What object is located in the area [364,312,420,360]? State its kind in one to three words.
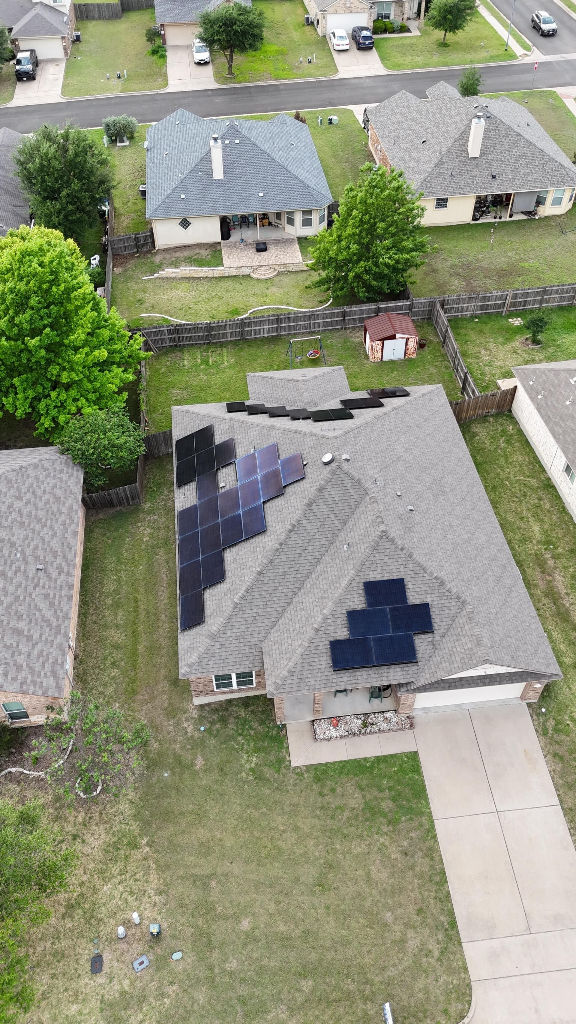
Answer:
shed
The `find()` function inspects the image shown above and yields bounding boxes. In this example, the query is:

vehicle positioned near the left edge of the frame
[16,52,40,78]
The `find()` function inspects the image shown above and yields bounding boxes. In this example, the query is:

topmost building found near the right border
[367,87,576,228]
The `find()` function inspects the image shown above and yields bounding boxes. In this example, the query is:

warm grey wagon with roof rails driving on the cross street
[530,8,558,32]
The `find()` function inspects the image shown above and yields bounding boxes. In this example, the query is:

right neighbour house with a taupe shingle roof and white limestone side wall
[511,358,576,502]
